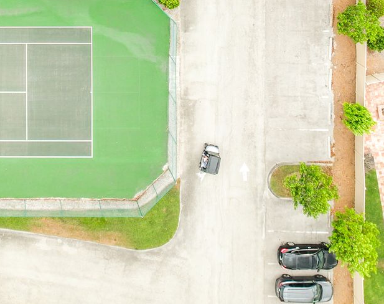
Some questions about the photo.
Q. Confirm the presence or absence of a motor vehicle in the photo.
Yes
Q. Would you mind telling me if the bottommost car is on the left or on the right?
right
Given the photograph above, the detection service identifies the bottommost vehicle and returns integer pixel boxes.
[277,272,334,304]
